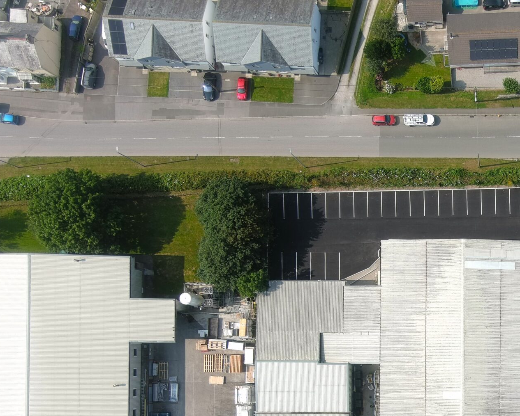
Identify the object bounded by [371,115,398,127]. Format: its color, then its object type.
red vehicle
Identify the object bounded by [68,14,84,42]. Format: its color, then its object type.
blue car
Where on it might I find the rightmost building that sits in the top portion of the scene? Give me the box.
[446,11,520,68]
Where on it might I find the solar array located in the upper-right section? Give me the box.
[470,38,518,61]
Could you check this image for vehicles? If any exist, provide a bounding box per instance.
[68,14,84,42]
[0,112,21,125]
[404,113,435,126]
[82,63,98,89]
[508,0,520,8]
[371,115,398,127]
[483,0,507,11]
[99,22,108,51]
[235,79,249,101]
[202,74,216,102]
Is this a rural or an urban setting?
urban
